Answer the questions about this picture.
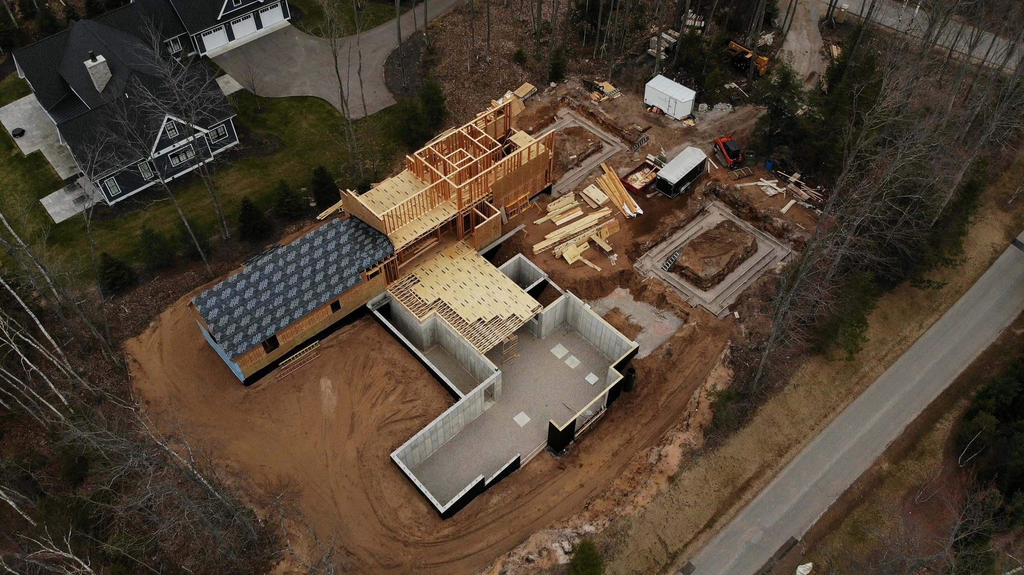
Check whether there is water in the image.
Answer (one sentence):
No, water can't be seen anywhere here.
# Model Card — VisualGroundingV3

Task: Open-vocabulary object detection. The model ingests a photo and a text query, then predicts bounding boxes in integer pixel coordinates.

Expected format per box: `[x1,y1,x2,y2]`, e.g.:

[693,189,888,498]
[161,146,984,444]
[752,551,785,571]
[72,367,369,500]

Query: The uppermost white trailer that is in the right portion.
[643,75,702,124]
